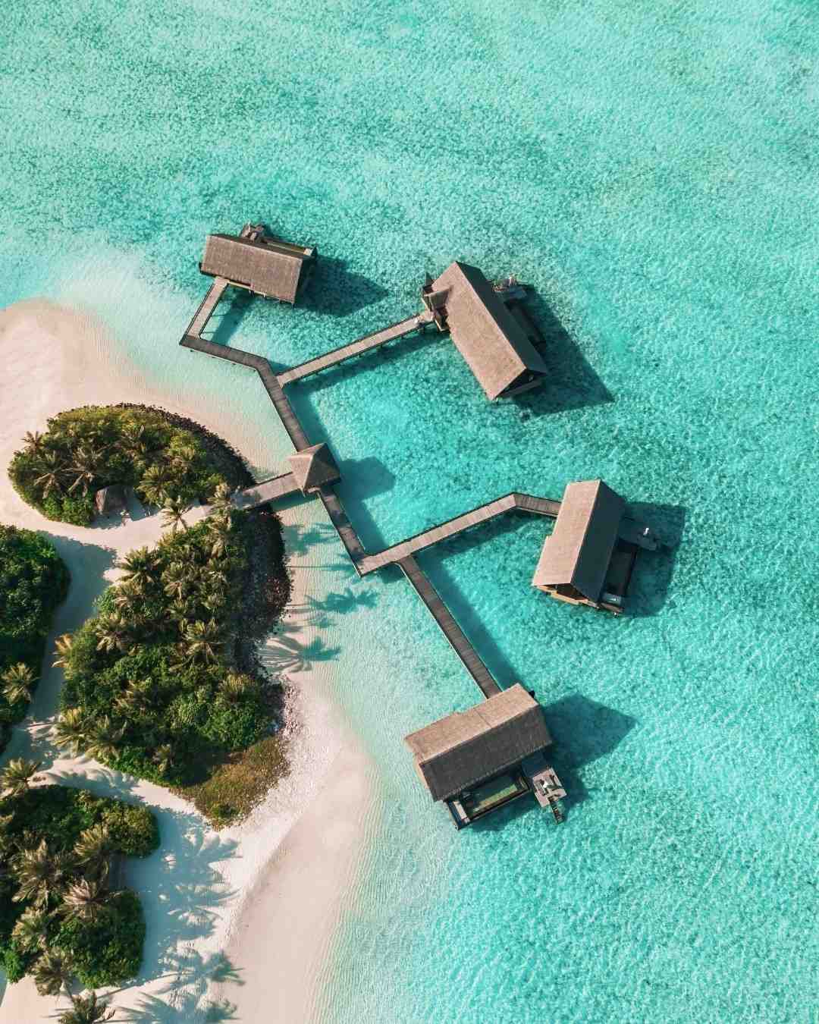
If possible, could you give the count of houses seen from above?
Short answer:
4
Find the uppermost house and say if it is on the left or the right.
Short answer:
left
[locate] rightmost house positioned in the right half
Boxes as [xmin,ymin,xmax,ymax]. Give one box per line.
[532,479,667,616]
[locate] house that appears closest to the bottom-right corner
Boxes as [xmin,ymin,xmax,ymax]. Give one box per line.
[405,685,568,832]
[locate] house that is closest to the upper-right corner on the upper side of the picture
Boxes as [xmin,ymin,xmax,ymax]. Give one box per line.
[417,261,559,407]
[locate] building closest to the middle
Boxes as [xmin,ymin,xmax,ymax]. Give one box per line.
[289,443,340,502]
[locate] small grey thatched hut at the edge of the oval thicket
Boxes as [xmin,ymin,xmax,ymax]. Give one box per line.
[96,485,124,518]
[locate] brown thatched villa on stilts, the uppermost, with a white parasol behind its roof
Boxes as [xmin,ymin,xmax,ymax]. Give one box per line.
[203,220,321,313]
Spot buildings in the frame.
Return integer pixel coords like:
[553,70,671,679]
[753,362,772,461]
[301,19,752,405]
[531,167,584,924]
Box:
[203,220,321,313]
[289,443,340,502]
[405,685,568,832]
[532,479,667,616]
[96,485,124,518]
[417,261,559,407]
